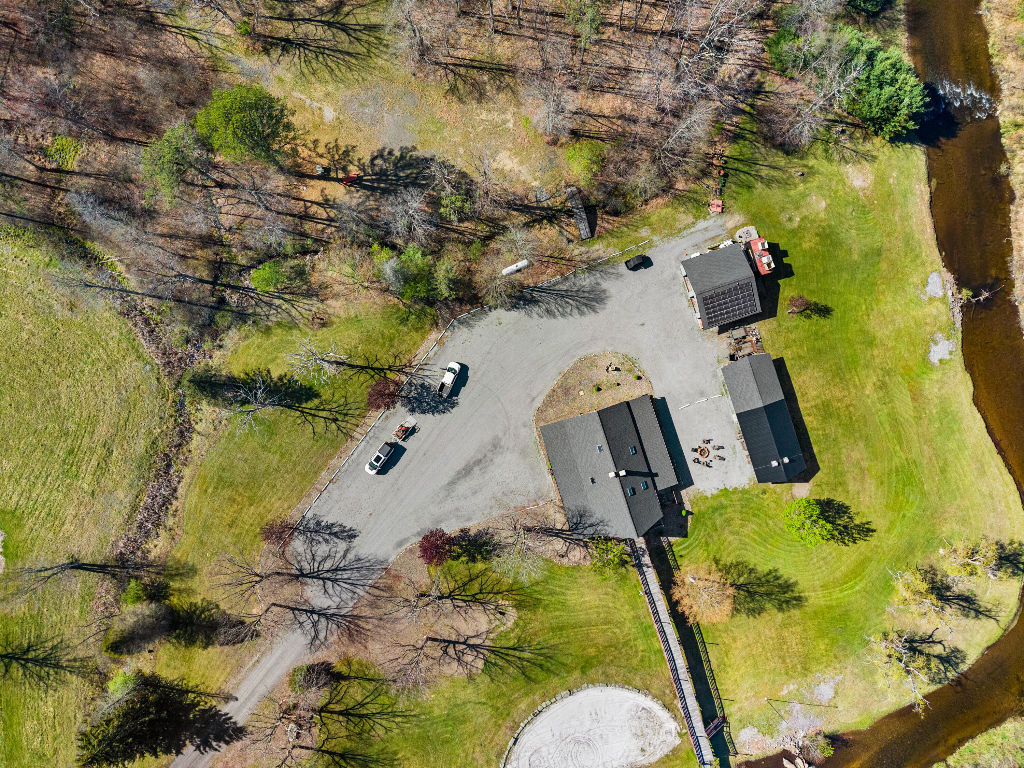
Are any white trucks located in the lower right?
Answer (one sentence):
No, I can find no white truck in the lower right.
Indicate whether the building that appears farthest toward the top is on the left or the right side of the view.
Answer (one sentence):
You can find the building that appears farthest toward the top on the right side of the picture.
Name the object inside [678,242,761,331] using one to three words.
building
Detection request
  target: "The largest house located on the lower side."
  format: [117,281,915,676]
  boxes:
[539,394,681,539]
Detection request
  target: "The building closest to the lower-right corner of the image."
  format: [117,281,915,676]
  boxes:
[721,353,807,483]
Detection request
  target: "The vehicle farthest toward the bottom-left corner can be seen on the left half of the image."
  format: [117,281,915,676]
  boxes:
[365,441,394,475]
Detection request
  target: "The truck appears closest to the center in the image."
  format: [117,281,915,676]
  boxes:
[435,360,457,399]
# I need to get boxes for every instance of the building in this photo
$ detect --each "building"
[721,353,807,483]
[539,394,681,539]
[678,242,761,331]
